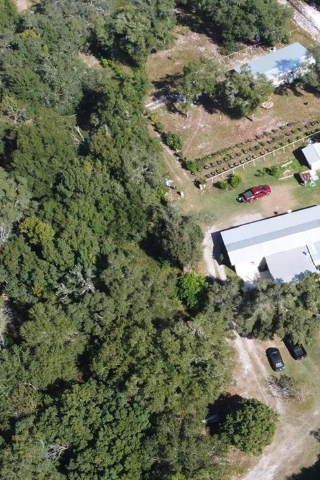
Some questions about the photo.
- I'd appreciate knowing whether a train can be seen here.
No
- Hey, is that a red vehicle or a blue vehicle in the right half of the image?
red vehicle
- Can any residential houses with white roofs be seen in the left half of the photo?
No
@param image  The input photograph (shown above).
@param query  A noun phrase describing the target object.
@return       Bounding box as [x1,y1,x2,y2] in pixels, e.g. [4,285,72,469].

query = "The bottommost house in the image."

[221,206,320,306]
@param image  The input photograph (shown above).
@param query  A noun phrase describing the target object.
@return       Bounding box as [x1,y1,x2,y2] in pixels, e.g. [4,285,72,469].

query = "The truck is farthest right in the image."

[283,333,311,363]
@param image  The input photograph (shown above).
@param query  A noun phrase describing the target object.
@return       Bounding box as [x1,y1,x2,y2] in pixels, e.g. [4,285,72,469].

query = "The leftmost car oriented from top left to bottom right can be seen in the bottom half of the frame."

[265,348,287,374]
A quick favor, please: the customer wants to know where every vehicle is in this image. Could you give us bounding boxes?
[265,348,287,374]
[283,333,311,363]
[238,187,271,204]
